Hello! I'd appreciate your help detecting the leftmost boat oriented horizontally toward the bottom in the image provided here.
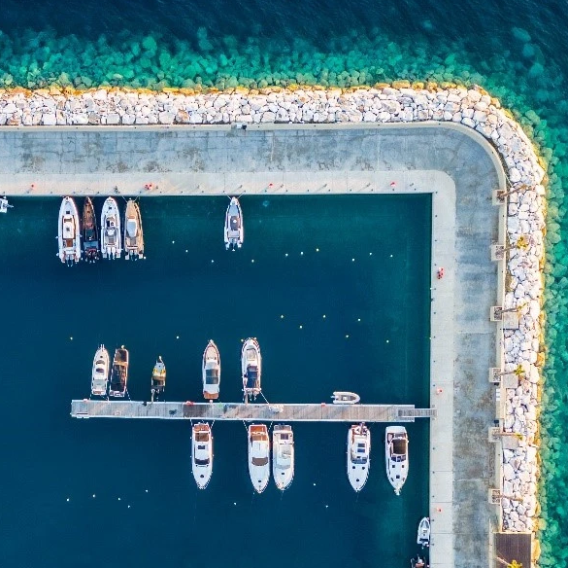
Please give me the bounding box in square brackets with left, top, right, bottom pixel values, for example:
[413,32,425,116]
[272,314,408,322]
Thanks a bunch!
[329,392,361,404]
